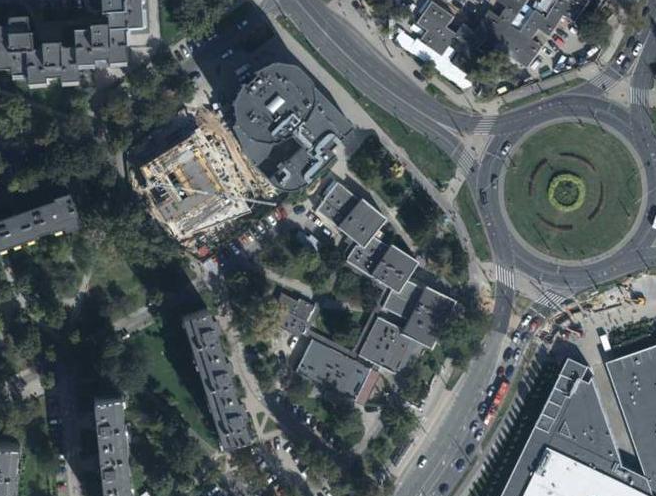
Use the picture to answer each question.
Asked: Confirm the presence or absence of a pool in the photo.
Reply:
No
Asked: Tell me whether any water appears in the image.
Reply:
No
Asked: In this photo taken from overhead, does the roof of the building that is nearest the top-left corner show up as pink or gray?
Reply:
gray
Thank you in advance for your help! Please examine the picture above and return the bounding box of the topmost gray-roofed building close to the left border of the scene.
[0,0,149,88]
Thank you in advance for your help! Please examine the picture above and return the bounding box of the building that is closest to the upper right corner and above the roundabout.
[492,0,588,70]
